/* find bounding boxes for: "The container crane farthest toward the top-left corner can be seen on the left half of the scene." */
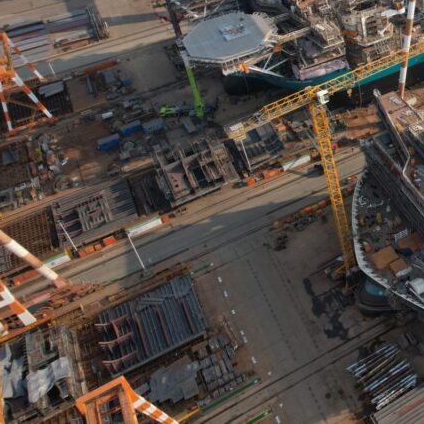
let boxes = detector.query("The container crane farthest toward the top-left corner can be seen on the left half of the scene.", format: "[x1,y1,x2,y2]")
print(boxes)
[0,25,61,136]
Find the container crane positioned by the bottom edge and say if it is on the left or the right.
left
